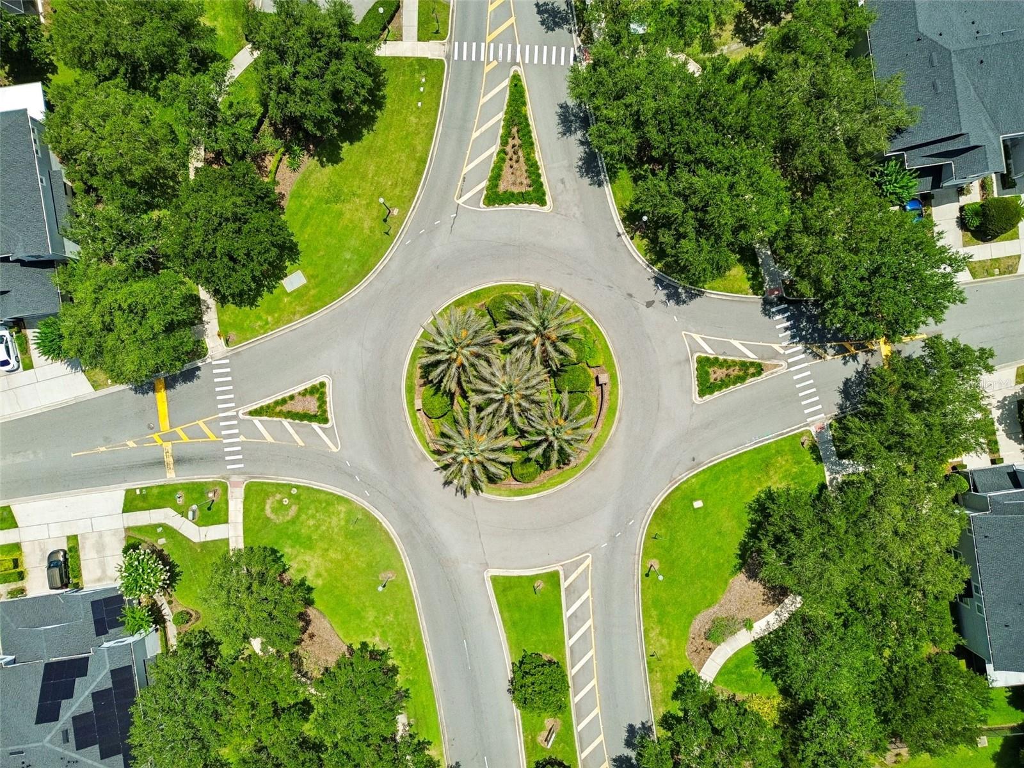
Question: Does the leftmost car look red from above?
No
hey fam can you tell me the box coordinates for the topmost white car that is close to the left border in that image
[0,332,20,372]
